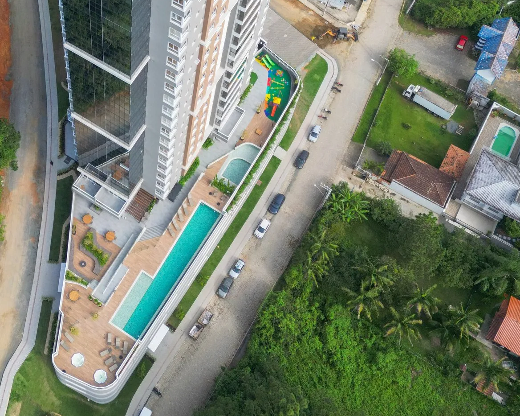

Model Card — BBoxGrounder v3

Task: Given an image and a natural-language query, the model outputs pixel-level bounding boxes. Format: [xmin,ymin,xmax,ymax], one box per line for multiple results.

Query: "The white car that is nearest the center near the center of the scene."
[254,216,272,240]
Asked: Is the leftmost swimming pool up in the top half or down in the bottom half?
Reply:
bottom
